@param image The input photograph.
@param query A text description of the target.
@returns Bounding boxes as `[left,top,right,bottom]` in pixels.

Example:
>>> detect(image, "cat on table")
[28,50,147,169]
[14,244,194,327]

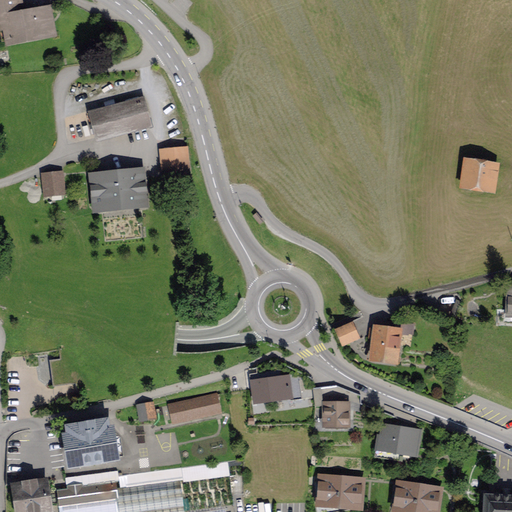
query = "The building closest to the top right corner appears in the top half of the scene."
[459,157,500,194]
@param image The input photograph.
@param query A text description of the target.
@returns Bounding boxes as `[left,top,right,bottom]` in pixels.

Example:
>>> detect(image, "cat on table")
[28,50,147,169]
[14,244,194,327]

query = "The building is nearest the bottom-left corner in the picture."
[10,477,54,512]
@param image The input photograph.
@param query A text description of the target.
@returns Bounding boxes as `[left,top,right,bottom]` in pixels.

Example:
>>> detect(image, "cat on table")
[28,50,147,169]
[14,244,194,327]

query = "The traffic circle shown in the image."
[245,269,320,344]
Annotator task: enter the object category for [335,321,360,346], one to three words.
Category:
shed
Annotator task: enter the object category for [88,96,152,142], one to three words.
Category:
barn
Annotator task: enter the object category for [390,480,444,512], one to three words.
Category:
house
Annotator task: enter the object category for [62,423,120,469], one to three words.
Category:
building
